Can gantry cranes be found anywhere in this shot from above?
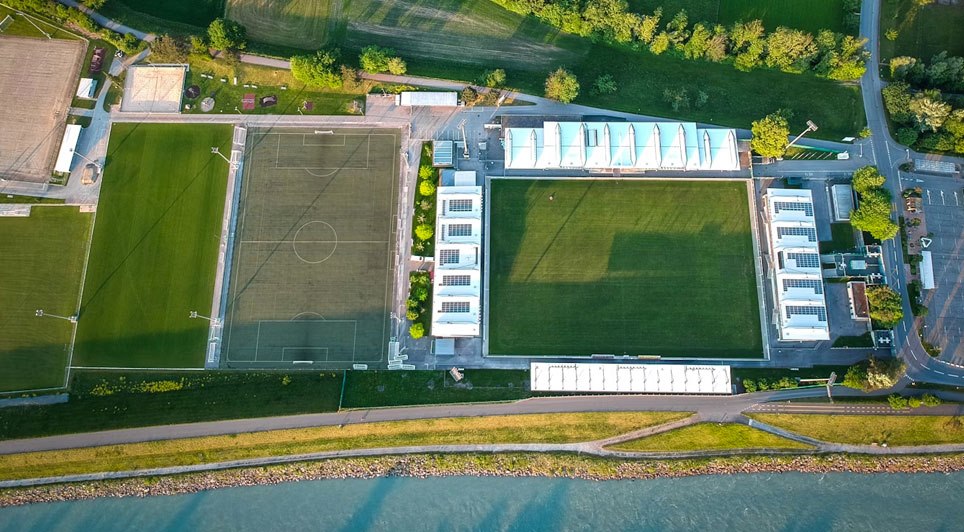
No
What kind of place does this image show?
sports ground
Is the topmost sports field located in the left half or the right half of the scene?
left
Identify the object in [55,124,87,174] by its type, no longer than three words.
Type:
building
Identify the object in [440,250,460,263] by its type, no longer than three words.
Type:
solar array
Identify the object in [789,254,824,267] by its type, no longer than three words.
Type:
solar array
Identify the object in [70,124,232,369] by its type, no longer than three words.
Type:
soccer field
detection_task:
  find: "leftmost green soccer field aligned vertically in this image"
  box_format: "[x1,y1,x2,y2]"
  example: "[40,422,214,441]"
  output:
[0,209,89,393]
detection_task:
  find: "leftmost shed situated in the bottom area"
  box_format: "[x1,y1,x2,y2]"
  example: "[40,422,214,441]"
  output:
[435,338,456,355]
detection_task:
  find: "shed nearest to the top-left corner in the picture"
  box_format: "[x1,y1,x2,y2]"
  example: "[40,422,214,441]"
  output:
[76,77,106,100]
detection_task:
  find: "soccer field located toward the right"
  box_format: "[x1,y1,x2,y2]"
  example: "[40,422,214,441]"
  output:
[482,173,773,363]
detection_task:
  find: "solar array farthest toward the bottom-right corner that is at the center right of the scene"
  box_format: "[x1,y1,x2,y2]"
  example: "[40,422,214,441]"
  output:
[786,307,830,321]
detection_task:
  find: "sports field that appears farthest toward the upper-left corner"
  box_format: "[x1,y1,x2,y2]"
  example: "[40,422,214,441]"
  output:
[0,35,87,184]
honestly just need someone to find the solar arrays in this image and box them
[776,203,818,217]
[451,201,474,211]
[440,250,460,263]
[783,280,827,294]
[450,225,474,236]
[778,228,821,241]
[789,254,824,267]
[441,302,470,313]
[442,276,471,286]
[786,307,830,321]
